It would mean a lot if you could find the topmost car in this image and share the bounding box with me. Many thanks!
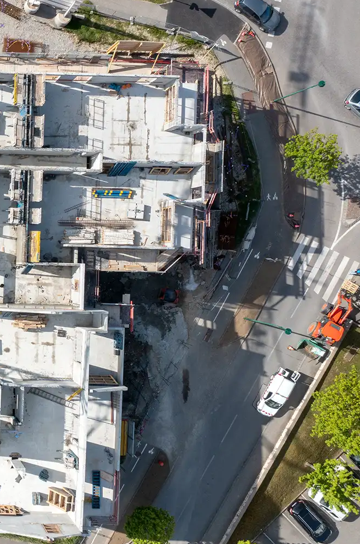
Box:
[237,0,284,32]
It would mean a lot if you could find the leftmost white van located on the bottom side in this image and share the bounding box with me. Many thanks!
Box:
[256,366,306,418]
